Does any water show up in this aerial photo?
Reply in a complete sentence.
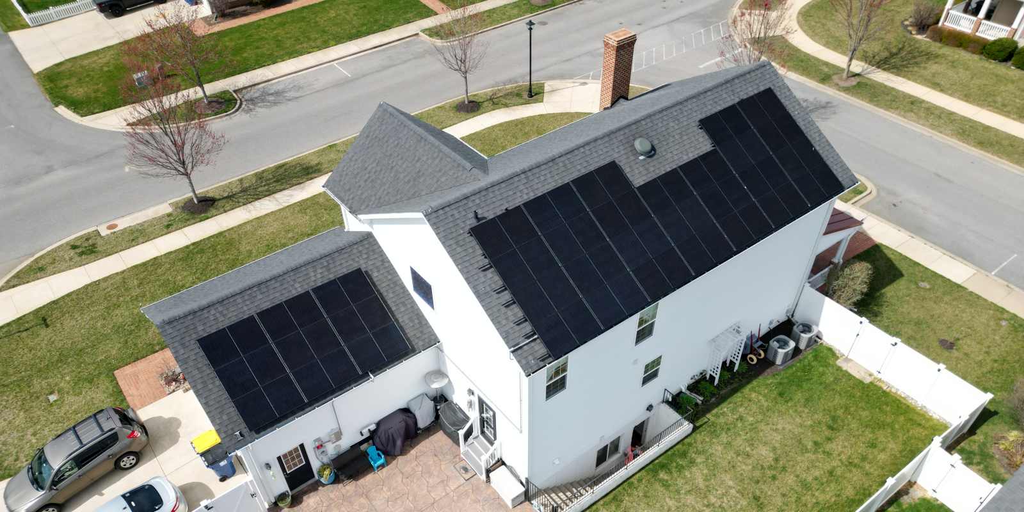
No, there's no water in this view.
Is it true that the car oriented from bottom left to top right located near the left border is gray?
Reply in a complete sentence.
Yes, the car oriented from bottom left to top right located near the left border appears gray.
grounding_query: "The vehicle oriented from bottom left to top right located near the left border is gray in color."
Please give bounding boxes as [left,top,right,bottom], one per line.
[0,402,154,512]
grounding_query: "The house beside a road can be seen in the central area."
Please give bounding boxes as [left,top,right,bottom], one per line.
[141,34,860,506]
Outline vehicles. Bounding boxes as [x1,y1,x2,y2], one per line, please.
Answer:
[0,402,154,512]
[73,474,188,512]
[93,0,170,14]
